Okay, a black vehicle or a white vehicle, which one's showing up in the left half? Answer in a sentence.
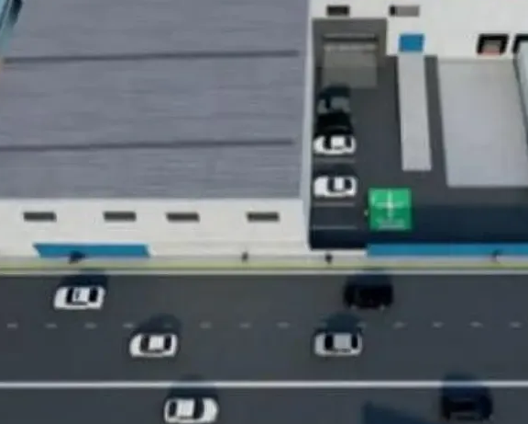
You can see a white vehicle in the left half.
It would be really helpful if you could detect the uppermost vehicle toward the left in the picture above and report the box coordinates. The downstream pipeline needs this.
[55,282,105,310]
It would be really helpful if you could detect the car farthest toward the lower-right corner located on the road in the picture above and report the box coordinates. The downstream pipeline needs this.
[442,388,495,420]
